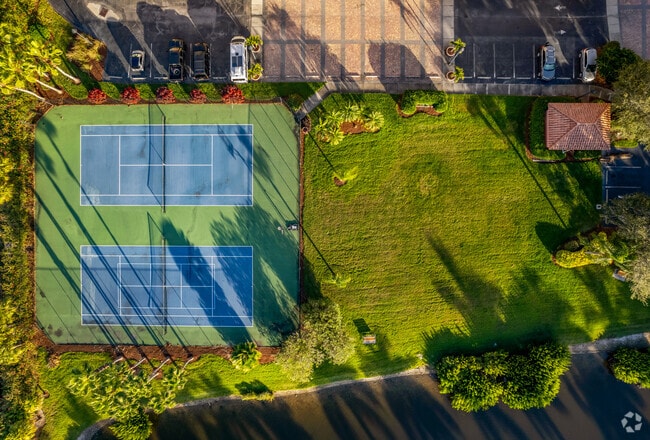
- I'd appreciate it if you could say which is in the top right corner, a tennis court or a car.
car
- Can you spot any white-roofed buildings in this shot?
No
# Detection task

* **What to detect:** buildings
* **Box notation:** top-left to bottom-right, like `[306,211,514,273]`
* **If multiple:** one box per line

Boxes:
[545,102,613,150]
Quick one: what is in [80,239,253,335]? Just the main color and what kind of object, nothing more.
blue tennis court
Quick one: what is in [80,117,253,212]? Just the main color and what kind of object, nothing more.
blue tennis court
